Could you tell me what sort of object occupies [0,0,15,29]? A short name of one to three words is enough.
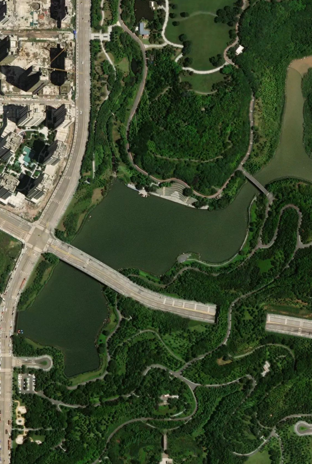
building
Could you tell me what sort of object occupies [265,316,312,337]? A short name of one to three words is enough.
bridge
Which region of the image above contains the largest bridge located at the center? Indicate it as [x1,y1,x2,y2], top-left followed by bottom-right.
[42,235,215,321]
